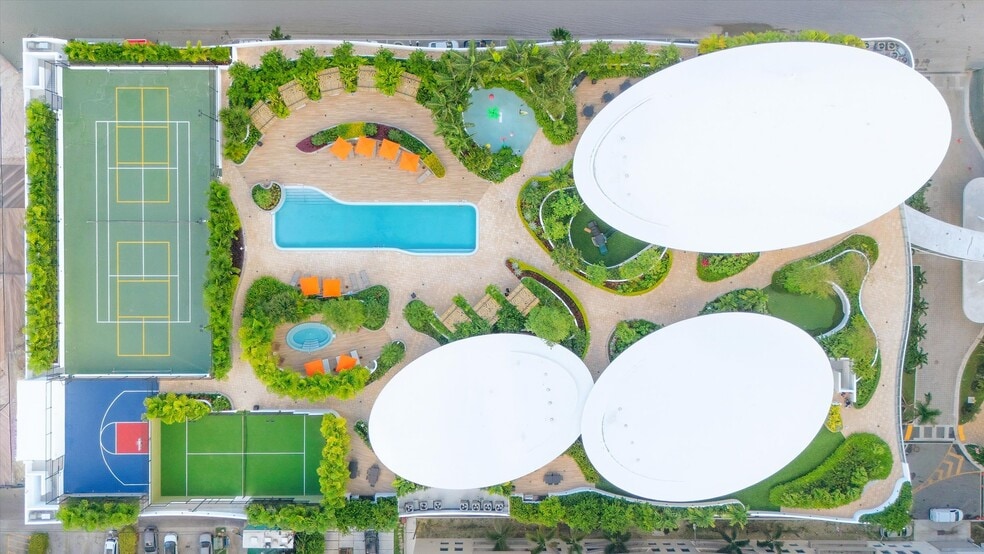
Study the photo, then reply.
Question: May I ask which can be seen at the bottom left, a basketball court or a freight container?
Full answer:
Visible at the bottom left is a basketball court.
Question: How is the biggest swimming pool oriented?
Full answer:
The biggest swimming pool runs from side to side in the image.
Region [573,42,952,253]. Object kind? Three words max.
building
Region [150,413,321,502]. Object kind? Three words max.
sports court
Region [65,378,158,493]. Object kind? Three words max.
basketball court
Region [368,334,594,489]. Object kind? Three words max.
building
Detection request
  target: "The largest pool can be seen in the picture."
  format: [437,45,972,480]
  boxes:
[273,181,479,255]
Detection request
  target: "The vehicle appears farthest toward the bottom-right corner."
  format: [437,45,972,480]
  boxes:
[926,506,964,524]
